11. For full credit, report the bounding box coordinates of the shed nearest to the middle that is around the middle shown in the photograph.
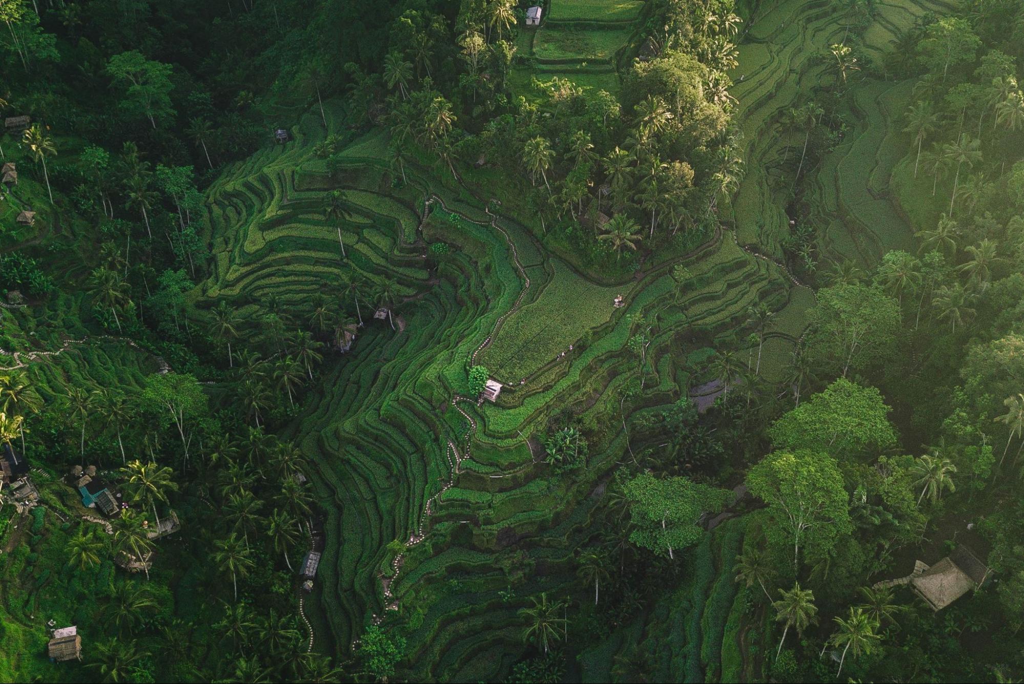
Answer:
[472,384,504,412]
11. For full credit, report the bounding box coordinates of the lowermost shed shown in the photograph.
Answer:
[44,626,81,658]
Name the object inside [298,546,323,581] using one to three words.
shed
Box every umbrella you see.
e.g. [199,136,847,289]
[85,466,100,477]
[71,466,86,477]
